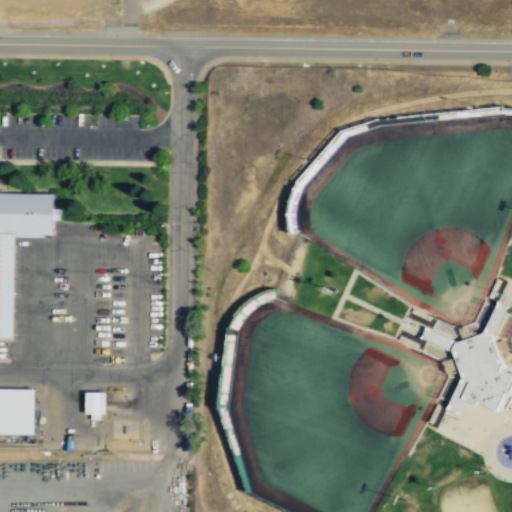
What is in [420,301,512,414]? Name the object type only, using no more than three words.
building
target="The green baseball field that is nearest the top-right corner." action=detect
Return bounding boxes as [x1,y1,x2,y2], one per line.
[297,114,512,328]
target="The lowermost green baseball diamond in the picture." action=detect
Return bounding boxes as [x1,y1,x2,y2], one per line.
[230,301,448,512]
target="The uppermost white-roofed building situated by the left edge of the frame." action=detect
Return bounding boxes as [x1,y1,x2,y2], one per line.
[0,193,64,339]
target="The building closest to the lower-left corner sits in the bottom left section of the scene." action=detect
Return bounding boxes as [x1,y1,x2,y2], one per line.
[0,389,38,436]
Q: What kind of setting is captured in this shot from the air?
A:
sports ground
